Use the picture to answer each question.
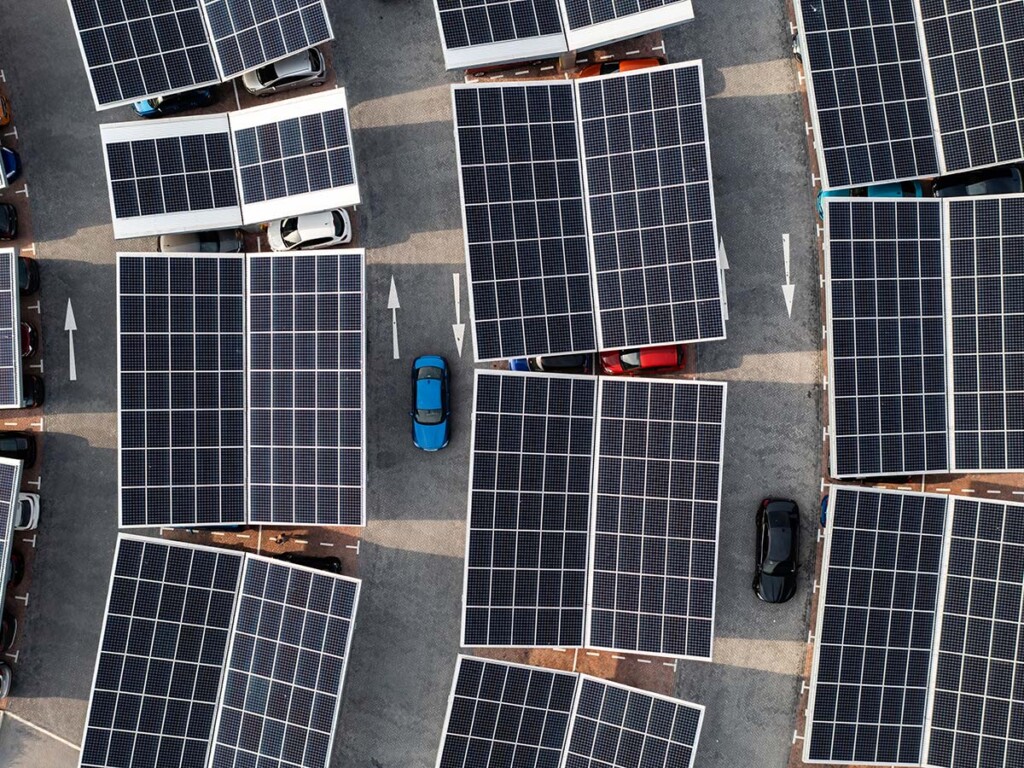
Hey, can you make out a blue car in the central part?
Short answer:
Yes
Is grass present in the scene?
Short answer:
No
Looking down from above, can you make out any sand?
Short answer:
No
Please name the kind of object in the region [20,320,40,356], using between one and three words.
car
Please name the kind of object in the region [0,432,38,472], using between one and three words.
car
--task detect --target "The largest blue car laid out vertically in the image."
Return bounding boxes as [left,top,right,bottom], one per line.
[407,355,452,451]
